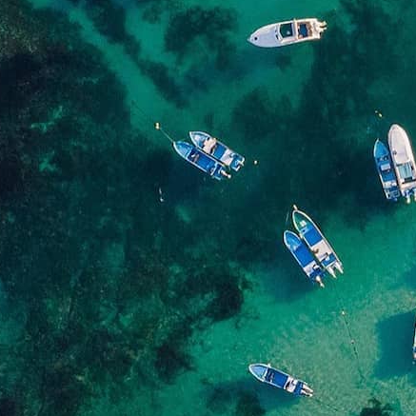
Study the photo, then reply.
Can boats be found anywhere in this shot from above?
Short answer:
Yes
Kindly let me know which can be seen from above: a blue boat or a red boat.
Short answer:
blue boat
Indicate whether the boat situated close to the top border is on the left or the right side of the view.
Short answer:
right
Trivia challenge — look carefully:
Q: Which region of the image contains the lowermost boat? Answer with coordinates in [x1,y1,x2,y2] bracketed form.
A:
[249,364,316,396]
